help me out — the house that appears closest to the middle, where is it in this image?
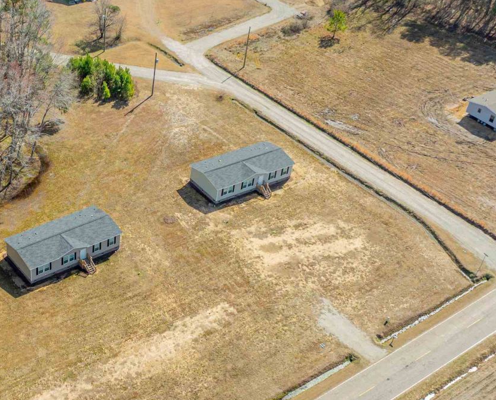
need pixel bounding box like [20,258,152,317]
[190,142,295,202]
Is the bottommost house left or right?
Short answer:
left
